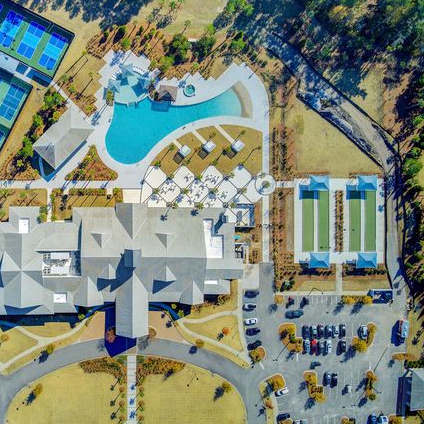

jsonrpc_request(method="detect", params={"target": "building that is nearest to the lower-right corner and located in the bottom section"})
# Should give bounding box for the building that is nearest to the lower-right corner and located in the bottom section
[406,368,424,410]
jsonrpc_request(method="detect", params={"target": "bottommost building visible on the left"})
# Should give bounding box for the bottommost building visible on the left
[0,202,243,339]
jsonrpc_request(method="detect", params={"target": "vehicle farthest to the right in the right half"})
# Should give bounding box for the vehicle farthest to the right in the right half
[395,318,408,339]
